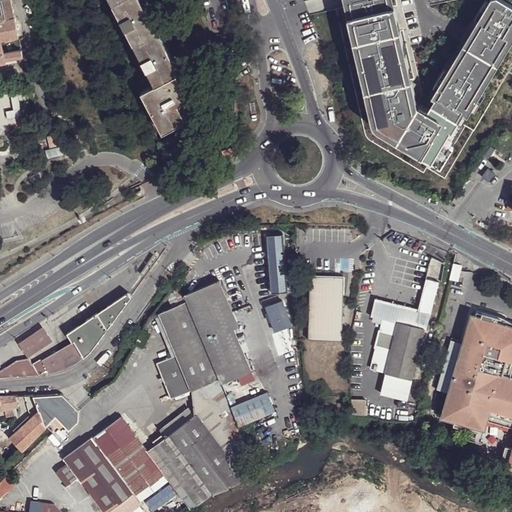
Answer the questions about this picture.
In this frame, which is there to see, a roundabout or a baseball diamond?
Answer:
roundabout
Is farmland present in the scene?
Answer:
No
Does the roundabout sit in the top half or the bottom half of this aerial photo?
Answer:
top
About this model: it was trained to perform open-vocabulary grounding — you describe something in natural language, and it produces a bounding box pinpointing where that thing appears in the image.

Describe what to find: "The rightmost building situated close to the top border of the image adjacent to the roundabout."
[341,0,512,180]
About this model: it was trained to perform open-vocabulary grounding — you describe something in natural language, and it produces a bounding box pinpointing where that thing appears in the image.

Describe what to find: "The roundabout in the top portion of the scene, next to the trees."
[249,116,342,207]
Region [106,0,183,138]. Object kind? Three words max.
building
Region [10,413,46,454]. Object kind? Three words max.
house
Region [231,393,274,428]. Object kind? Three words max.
shed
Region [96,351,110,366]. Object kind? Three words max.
vehicle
